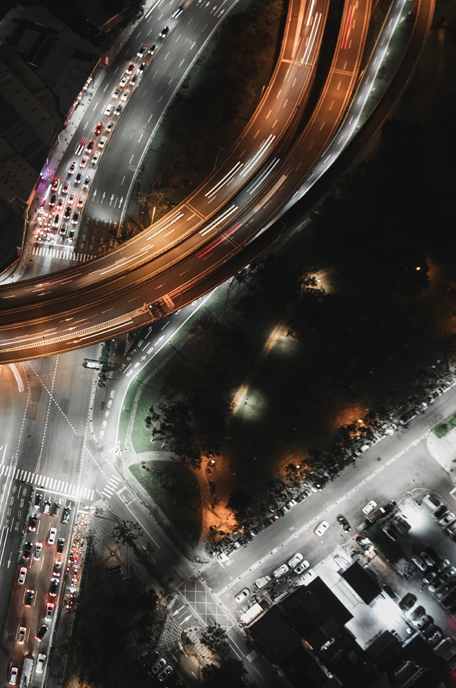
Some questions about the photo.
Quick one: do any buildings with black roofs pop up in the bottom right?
Yes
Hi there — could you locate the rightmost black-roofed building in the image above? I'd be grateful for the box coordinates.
[362,630,432,688]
